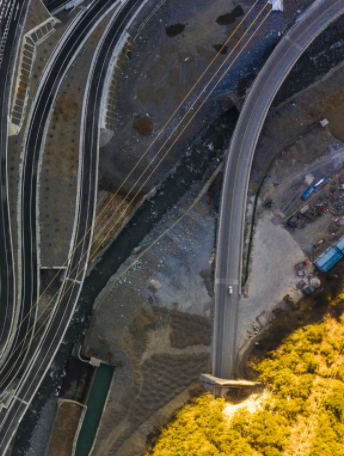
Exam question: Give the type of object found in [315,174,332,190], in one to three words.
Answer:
vehicle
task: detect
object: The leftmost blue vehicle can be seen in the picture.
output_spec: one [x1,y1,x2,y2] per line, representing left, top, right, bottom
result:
[300,183,319,199]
